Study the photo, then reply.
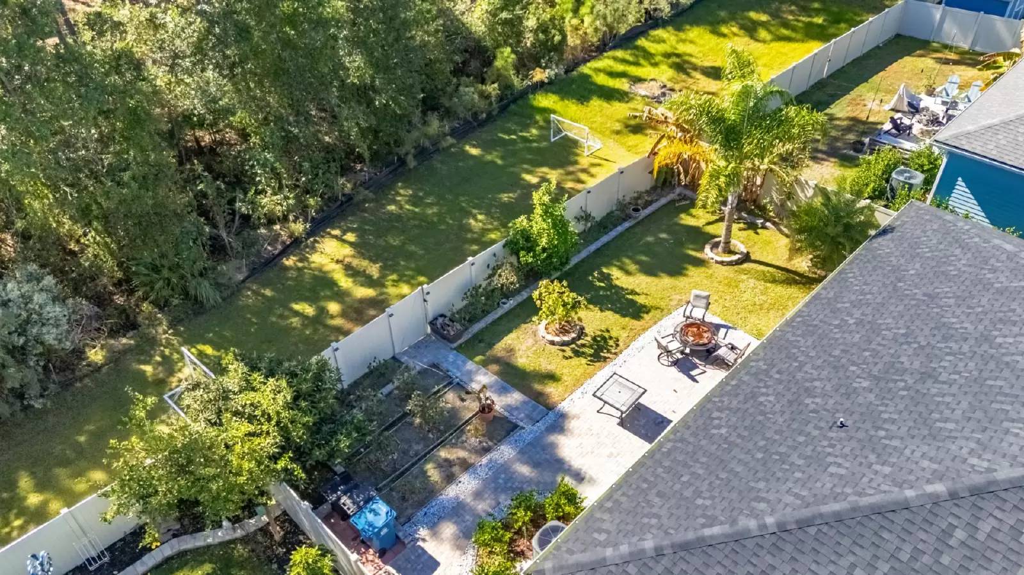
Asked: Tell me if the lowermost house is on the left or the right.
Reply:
right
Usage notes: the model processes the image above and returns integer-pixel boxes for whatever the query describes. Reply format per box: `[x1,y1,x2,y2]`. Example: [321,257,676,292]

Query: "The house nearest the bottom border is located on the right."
[517,200,1024,575]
